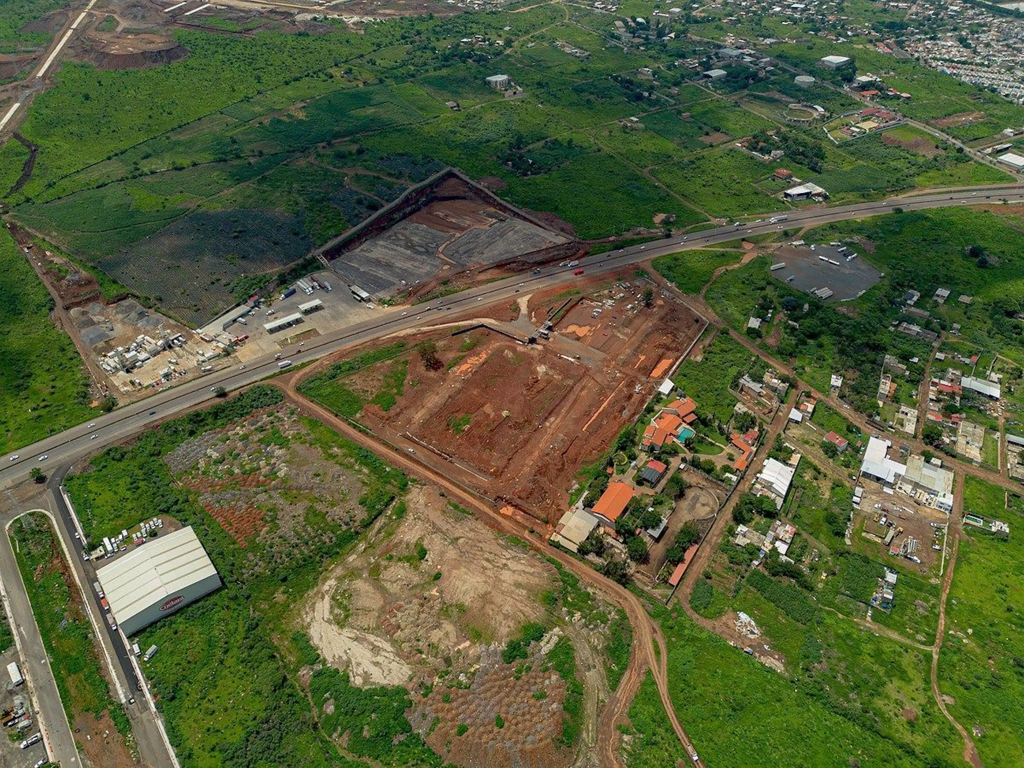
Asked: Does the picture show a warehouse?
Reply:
Yes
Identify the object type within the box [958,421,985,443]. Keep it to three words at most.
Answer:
house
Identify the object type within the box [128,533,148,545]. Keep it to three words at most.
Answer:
vehicle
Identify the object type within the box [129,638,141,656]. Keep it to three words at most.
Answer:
vehicle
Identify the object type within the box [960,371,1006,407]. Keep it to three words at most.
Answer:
building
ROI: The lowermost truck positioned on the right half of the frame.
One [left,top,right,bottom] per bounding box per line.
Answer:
[683,740,704,765]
